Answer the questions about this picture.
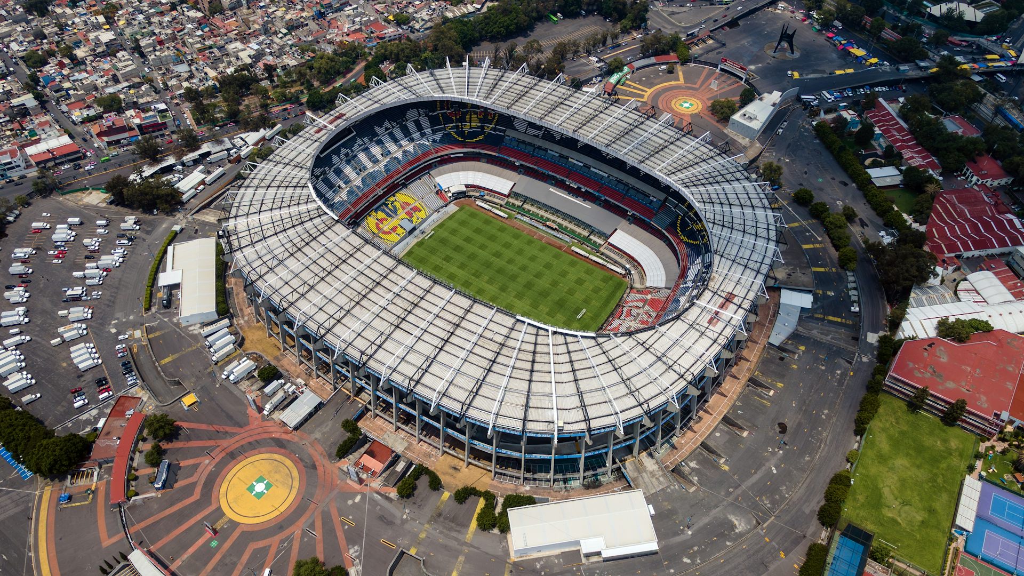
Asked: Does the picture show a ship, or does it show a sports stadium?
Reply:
sports stadium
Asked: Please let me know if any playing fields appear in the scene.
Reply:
Yes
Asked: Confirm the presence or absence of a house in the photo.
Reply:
Yes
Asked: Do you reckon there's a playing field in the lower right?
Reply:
Yes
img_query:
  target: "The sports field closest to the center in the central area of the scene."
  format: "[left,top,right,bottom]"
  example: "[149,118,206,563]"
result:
[400,204,630,335]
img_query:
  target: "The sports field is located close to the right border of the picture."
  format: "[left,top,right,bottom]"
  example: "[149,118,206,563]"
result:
[840,393,975,576]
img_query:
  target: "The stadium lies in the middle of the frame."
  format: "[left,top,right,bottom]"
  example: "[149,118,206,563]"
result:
[215,55,786,484]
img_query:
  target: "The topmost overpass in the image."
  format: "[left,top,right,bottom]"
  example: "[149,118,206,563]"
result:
[704,0,775,32]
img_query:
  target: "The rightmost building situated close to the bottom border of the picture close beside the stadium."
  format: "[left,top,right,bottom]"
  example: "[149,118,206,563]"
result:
[507,488,657,558]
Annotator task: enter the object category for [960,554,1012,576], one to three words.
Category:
sports court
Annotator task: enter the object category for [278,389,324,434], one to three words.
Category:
shed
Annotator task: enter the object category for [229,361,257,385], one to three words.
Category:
truck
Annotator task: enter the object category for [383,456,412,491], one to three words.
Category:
building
